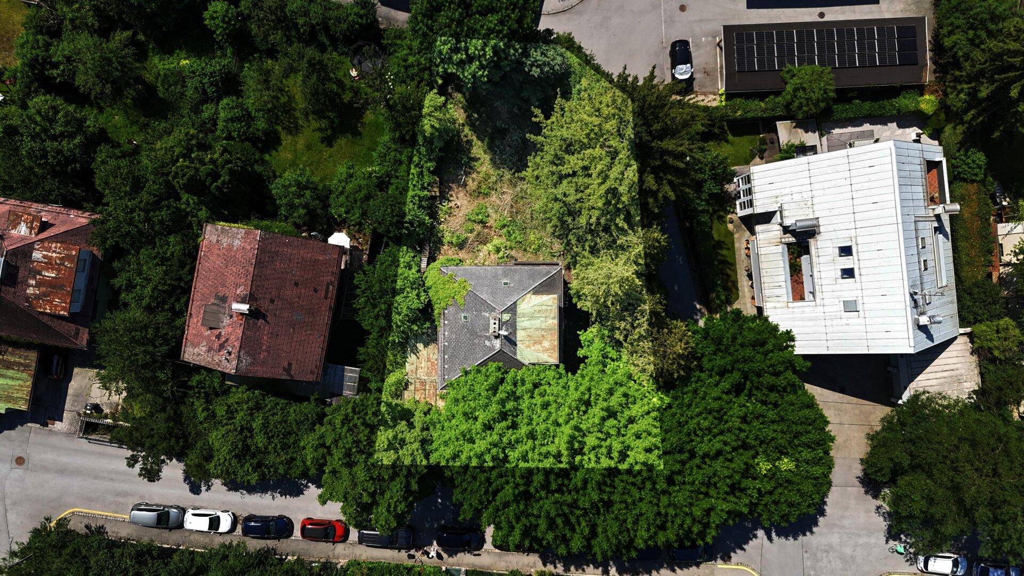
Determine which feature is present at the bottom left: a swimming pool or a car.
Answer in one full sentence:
It is a car that can be seen at the bottom left.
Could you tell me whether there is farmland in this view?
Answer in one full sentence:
No, no farmland is visible.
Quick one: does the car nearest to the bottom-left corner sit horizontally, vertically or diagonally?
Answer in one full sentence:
The car nearest to the bottom-left corner has been laid out horizontally relative to the frame.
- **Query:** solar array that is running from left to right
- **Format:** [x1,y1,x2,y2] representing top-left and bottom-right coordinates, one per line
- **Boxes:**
[735,25,918,71]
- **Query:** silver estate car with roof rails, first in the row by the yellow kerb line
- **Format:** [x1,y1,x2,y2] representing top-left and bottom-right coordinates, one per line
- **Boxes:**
[129,501,187,532]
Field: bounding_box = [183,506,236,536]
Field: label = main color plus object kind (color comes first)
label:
white car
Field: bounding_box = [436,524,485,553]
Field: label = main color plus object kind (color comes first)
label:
black car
